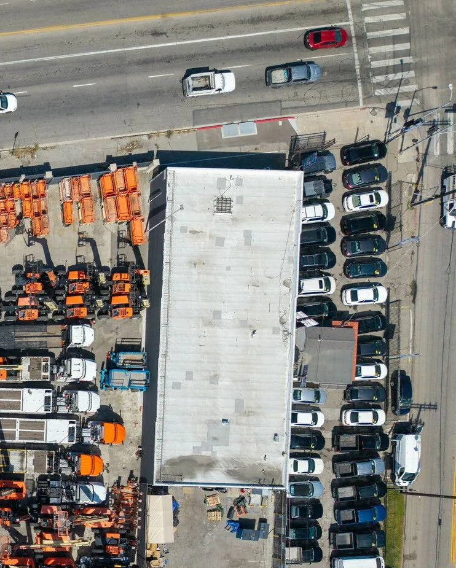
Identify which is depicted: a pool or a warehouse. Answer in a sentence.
I can see a warehouse in this picture.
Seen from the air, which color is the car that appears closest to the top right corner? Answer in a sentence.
The car that appears closest to the top right corner is red.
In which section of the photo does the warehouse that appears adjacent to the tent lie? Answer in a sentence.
Look in the center portion of the view to spot the warehouse that appears adjacent to the tent.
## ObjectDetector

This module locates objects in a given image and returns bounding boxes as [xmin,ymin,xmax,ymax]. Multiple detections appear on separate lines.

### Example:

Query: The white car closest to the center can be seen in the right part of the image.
[298,274,337,297]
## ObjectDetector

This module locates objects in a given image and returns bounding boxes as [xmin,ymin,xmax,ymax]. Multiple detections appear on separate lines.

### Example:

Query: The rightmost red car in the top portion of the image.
[300,25,349,52]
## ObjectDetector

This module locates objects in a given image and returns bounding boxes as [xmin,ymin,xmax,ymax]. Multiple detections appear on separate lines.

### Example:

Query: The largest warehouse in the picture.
[137,168,305,489]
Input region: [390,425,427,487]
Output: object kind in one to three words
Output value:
van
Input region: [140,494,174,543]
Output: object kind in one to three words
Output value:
tent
